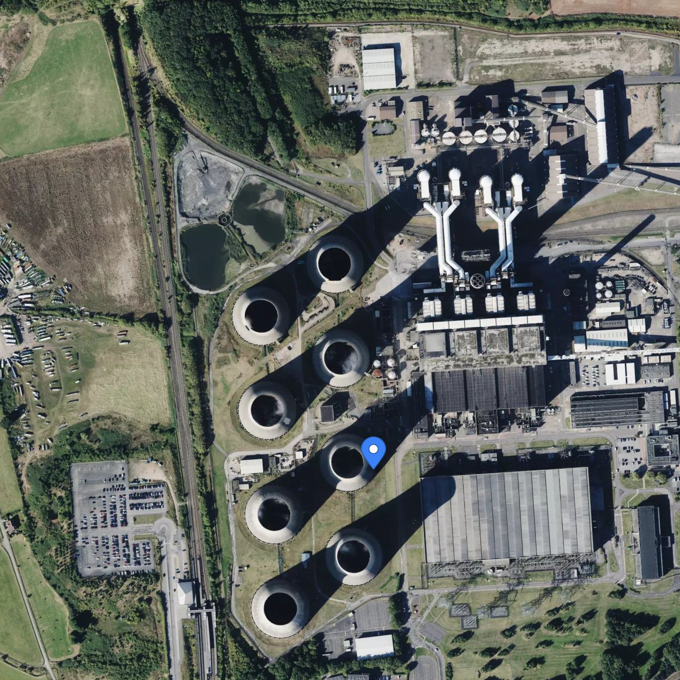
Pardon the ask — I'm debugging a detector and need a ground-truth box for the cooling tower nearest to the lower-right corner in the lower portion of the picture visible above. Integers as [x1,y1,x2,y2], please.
[324,526,384,588]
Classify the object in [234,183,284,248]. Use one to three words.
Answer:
pond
